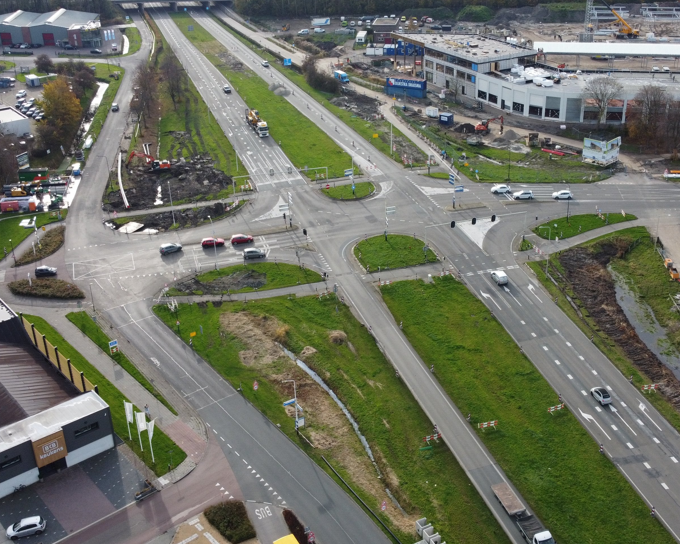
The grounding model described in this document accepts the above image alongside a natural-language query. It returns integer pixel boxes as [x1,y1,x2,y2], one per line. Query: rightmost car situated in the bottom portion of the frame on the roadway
[586,383,617,404]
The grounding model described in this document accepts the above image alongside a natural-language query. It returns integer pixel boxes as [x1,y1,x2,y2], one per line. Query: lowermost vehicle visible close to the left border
[0,515,50,540]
